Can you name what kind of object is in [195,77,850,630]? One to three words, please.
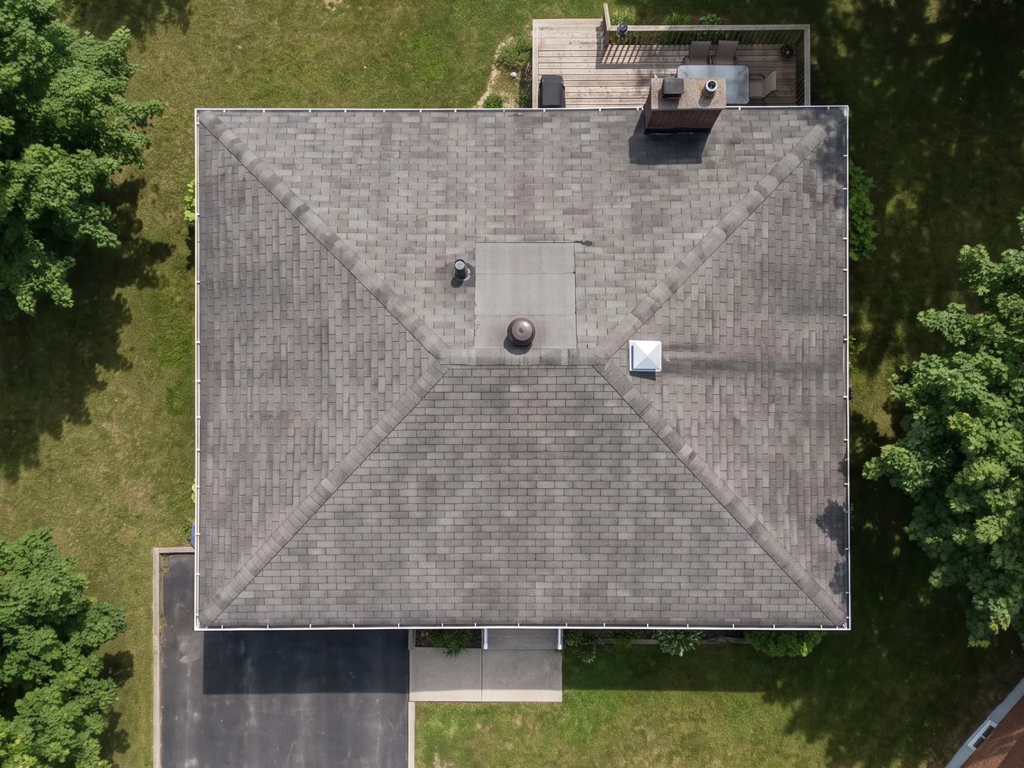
house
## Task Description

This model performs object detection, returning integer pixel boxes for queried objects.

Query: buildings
[195,77,850,630]
[948,678,1024,768]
